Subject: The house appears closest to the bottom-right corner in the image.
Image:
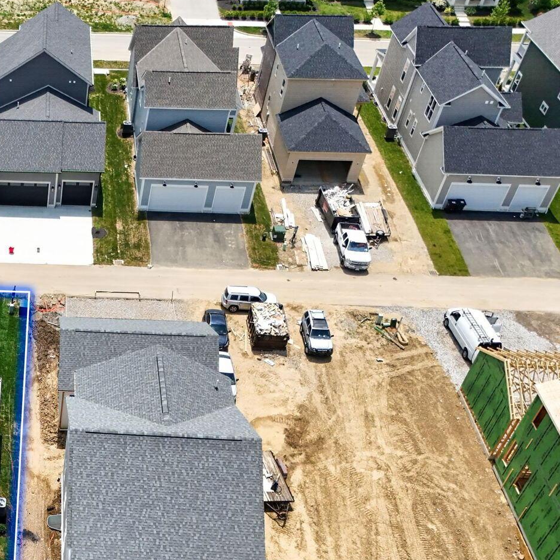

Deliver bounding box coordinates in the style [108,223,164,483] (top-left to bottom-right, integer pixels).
[458,352,560,560]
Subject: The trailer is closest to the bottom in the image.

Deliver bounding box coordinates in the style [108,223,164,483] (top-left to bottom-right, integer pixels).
[262,450,297,519]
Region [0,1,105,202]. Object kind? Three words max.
house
